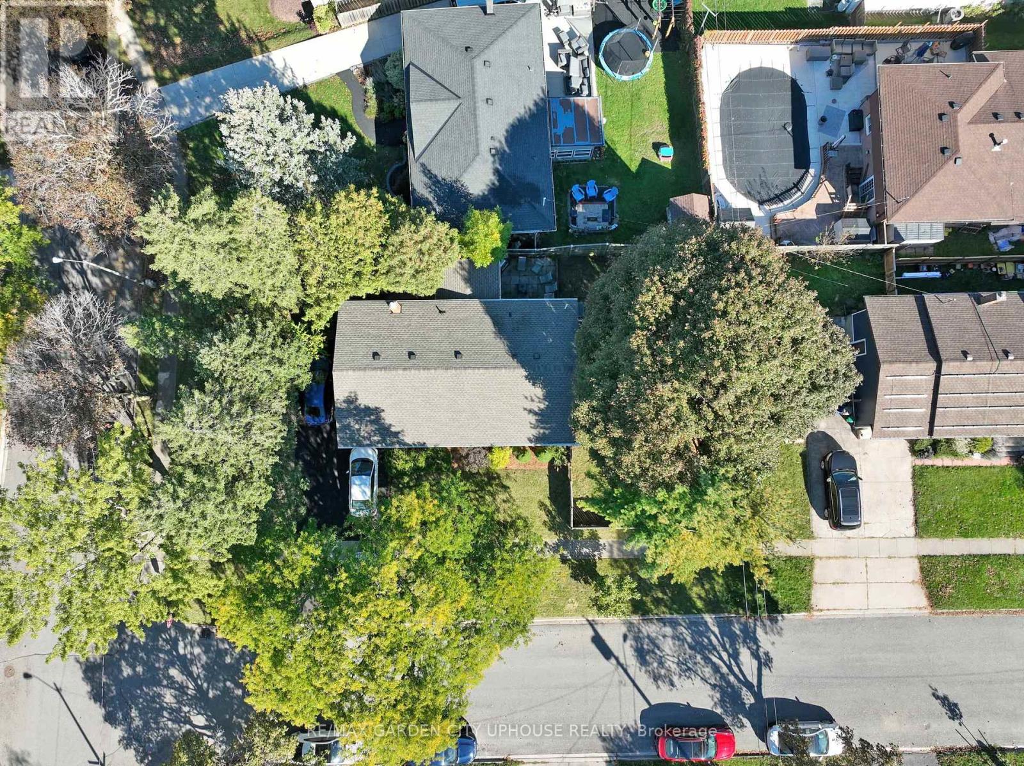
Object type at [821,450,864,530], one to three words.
car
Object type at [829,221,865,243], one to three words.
greenhouse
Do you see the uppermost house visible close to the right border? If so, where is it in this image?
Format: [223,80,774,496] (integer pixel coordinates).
[859,49,1024,228]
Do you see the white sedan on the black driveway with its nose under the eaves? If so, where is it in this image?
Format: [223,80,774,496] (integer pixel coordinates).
[346,448,381,521]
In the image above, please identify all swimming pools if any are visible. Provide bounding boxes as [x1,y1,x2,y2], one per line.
[711,60,819,211]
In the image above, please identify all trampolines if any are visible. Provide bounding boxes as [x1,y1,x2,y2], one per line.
[596,15,658,88]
